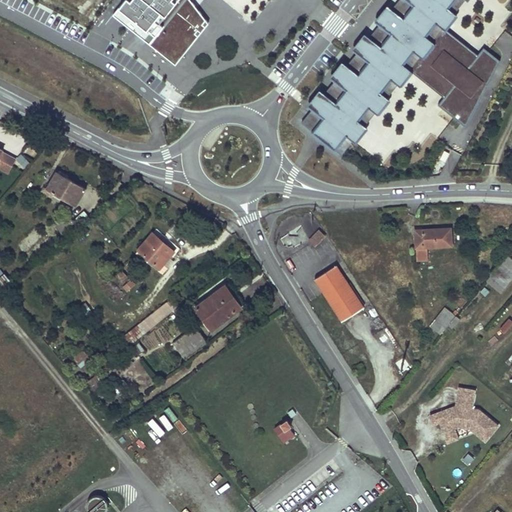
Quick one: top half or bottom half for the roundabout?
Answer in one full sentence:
Seen from above, the roundabout lies in the top half of the view.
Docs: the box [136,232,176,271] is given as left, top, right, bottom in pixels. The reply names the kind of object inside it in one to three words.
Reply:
house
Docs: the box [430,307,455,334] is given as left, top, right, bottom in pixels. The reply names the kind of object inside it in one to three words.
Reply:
building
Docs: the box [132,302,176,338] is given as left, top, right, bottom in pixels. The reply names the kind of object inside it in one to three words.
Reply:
shed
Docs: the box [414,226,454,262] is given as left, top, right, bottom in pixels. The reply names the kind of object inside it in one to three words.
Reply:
house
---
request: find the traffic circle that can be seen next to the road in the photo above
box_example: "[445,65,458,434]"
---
[182,107,280,204]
